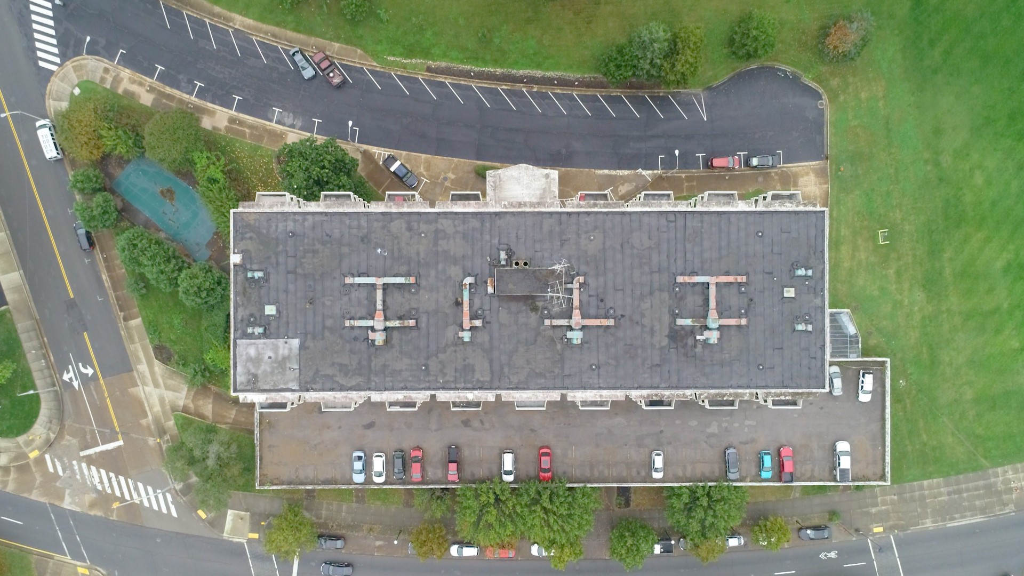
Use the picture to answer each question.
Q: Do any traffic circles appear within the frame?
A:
No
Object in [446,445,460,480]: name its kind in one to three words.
vehicle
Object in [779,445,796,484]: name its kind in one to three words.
vehicle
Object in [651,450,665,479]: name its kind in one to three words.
car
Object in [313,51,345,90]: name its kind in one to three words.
truck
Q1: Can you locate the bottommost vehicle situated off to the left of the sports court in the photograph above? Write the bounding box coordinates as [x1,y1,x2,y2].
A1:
[74,221,95,253]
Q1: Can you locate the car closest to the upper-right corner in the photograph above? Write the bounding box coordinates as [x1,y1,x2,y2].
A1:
[746,153,780,168]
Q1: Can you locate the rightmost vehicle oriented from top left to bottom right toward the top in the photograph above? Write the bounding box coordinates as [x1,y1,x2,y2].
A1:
[382,152,418,189]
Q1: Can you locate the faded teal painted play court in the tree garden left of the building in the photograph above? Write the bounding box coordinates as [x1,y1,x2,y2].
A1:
[112,156,216,261]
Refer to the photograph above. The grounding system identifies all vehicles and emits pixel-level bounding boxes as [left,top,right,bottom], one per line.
[828,364,843,396]
[351,450,366,483]
[537,446,553,481]
[779,445,796,484]
[408,446,424,482]
[651,450,665,479]
[758,450,774,479]
[290,47,316,82]
[643,538,675,553]
[313,535,346,551]
[313,51,345,90]
[746,153,780,168]
[391,449,406,481]
[446,445,460,480]
[798,524,831,541]
[321,560,354,576]
[856,368,874,402]
[501,449,516,482]
[724,446,742,480]
[74,221,95,253]
[371,452,386,483]
[382,152,418,189]
[450,542,479,558]
[407,540,436,555]
[708,154,739,169]
[35,120,62,162]
[833,440,852,482]
[531,542,560,558]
